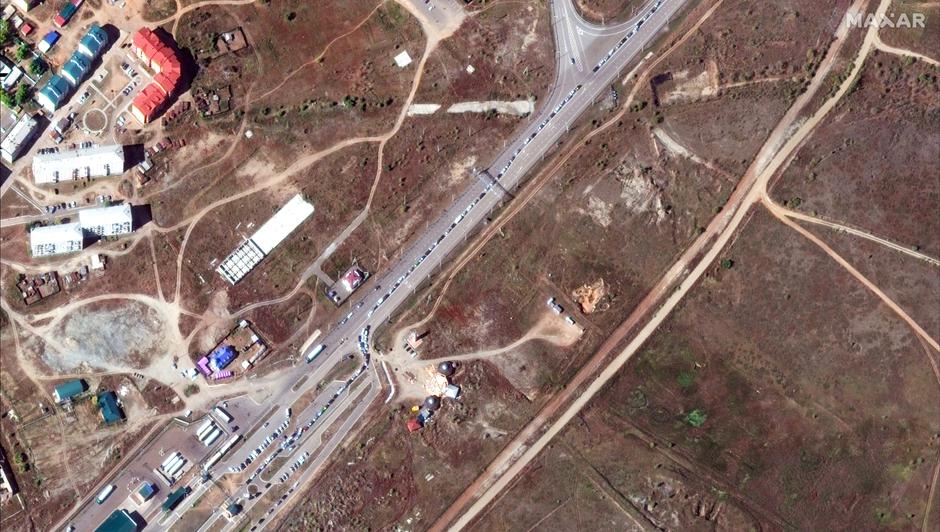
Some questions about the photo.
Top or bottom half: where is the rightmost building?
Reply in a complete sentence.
The rightmost building is in the top half of the image.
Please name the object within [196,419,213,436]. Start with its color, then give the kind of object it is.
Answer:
white vehicle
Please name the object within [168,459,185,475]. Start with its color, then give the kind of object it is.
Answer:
white vehicle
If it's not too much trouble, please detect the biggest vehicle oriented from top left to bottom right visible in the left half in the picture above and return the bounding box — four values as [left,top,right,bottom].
[214,405,232,423]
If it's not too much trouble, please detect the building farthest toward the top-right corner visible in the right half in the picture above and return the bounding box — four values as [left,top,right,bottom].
[650,72,673,108]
